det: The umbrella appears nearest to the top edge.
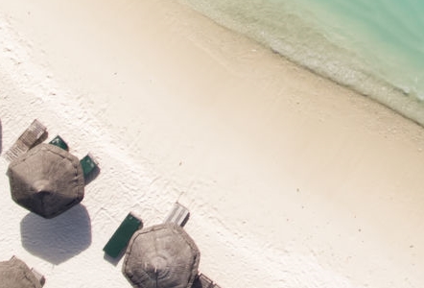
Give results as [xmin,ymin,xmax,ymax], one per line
[9,139,85,221]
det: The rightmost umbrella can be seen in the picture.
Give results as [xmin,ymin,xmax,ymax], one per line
[122,221,202,288]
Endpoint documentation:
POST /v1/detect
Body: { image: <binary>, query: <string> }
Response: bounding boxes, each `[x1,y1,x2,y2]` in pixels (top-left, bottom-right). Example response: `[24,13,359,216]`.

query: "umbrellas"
[122,221,202,288]
[9,139,85,221]
[0,254,46,288]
